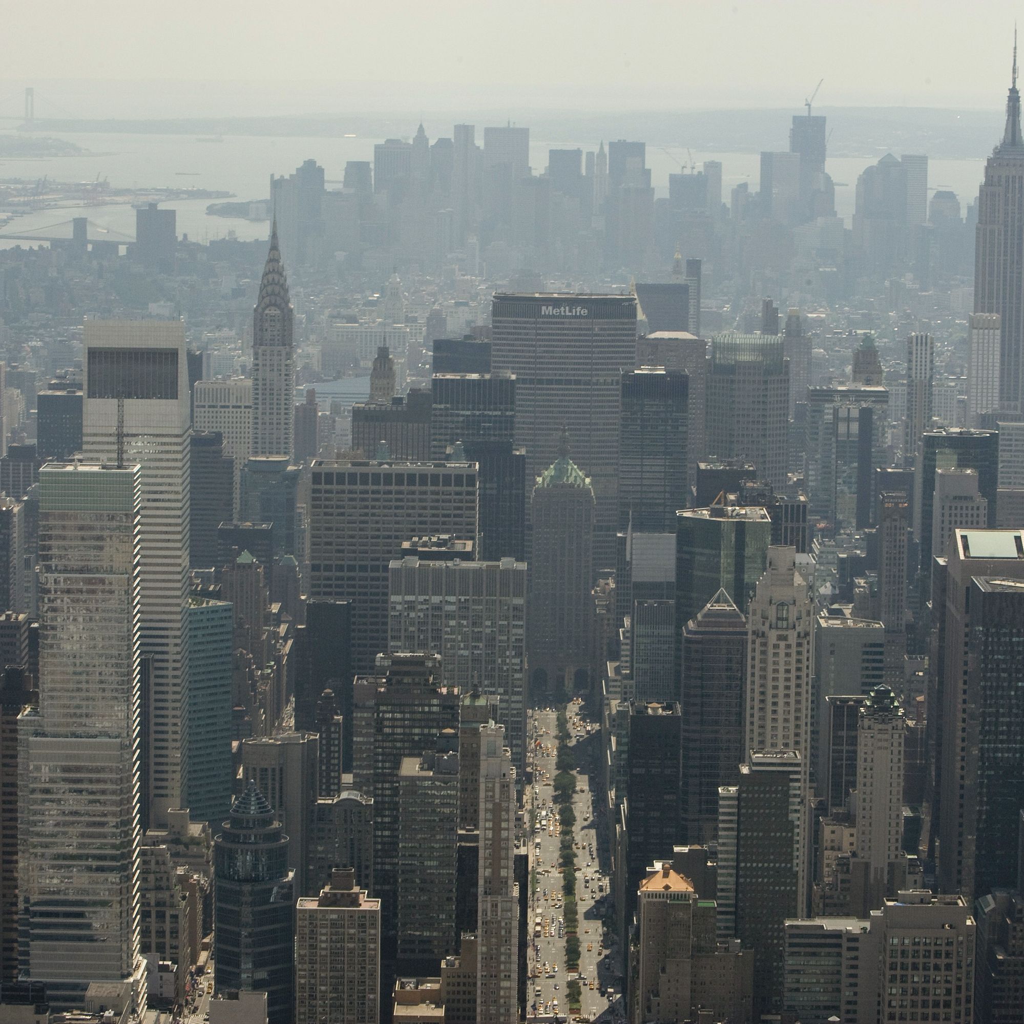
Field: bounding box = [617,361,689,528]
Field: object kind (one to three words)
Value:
building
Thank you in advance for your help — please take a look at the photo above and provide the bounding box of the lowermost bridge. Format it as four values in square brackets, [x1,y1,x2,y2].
[0,217,135,249]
